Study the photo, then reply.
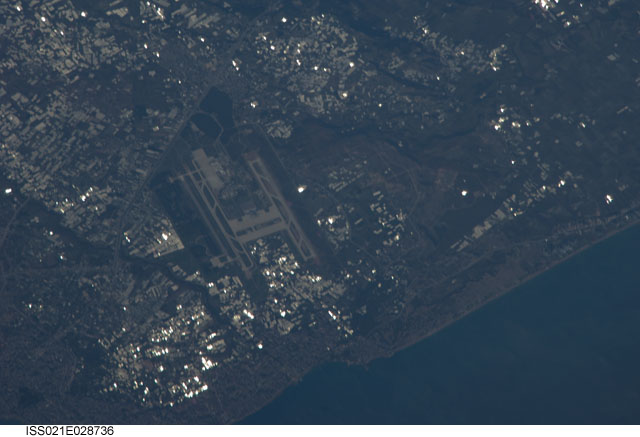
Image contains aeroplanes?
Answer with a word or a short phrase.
No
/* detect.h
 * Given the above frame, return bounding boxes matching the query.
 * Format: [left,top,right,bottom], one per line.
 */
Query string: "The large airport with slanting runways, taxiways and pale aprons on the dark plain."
[166,144,326,278]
